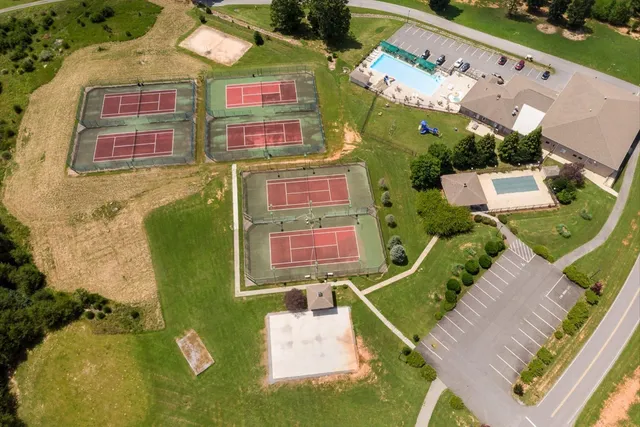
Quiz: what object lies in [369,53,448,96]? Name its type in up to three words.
swimming pool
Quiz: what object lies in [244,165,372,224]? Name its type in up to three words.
tennis court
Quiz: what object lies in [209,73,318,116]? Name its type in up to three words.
tennis court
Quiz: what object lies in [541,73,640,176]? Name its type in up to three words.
building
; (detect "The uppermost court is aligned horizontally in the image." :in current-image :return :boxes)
[179,24,252,66]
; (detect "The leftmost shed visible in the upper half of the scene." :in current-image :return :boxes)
[349,70,378,91]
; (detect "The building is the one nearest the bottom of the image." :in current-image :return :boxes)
[306,283,334,313]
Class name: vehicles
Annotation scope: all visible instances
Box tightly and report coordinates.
[515,60,525,69]
[461,63,471,72]
[452,57,465,68]
[541,70,551,79]
[526,54,534,61]
[498,56,508,64]
[420,50,431,59]
[435,56,446,64]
